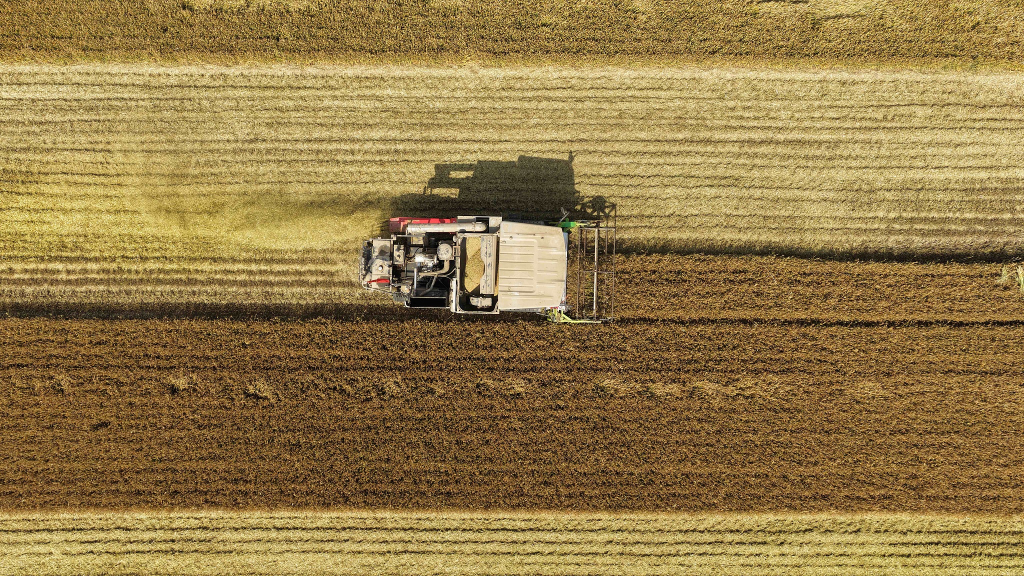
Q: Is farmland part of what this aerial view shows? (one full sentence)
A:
Yes, there is farmland in the image.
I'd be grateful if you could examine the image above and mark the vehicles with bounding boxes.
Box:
[360,206,616,323]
